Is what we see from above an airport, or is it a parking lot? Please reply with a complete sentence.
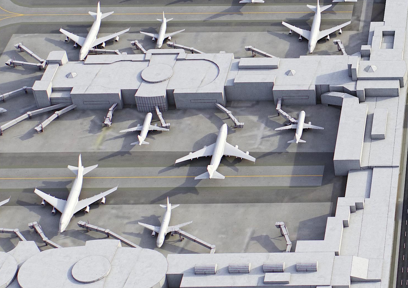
What you see here is an airport.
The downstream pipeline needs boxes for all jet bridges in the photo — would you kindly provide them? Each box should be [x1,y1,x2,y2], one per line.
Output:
[4,59,47,71]
[169,227,217,253]
[33,105,78,135]
[0,104,69,135]
[27,222,62,248]
[165,41,205,54]
[332,39,348,55]
[130,40,147,54]
[155,107,172,129]
[0,86,33,104]
[244,46,277,58]
[274,222,293,253]
[0,225,28,240]
[77,222,141,248]
[13,44,47,64]
[216,103,246,129]
[276,99,300,126]
[105,104,118,131]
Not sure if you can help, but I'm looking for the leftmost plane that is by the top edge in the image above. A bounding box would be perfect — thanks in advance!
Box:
[56,4,129,60]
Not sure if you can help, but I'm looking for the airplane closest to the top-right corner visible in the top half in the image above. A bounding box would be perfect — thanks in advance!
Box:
[280,0,351,53]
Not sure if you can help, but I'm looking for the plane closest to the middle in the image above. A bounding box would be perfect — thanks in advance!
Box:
[173,123,255,176]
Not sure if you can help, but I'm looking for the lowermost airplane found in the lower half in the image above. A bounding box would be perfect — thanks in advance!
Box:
[138,199,190,247]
